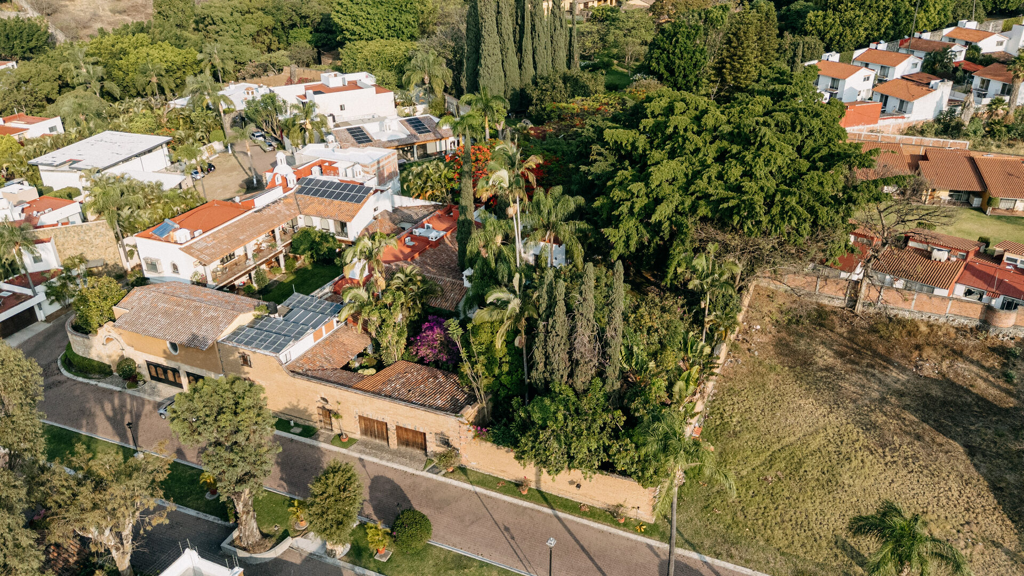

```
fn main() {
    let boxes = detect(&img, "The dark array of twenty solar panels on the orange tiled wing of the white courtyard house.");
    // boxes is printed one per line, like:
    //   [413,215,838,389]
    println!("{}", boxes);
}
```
[298,176,372,204]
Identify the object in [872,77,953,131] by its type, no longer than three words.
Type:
house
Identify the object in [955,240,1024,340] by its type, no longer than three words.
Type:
house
